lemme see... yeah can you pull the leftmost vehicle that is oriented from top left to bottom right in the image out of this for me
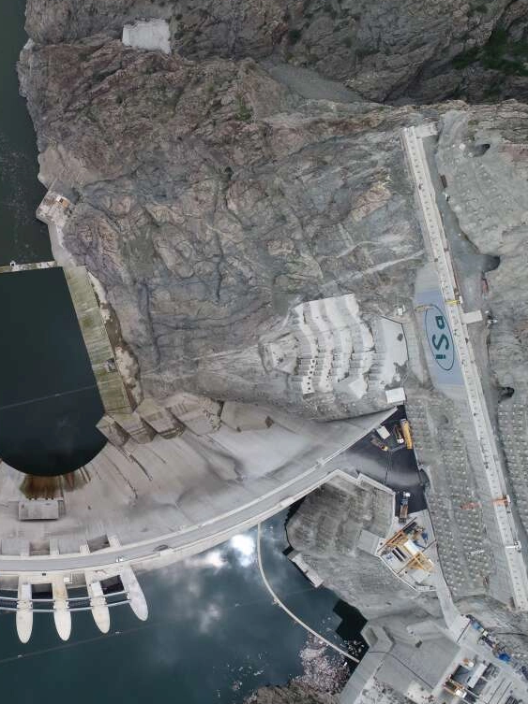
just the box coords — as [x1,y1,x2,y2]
[372,437,390,452]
